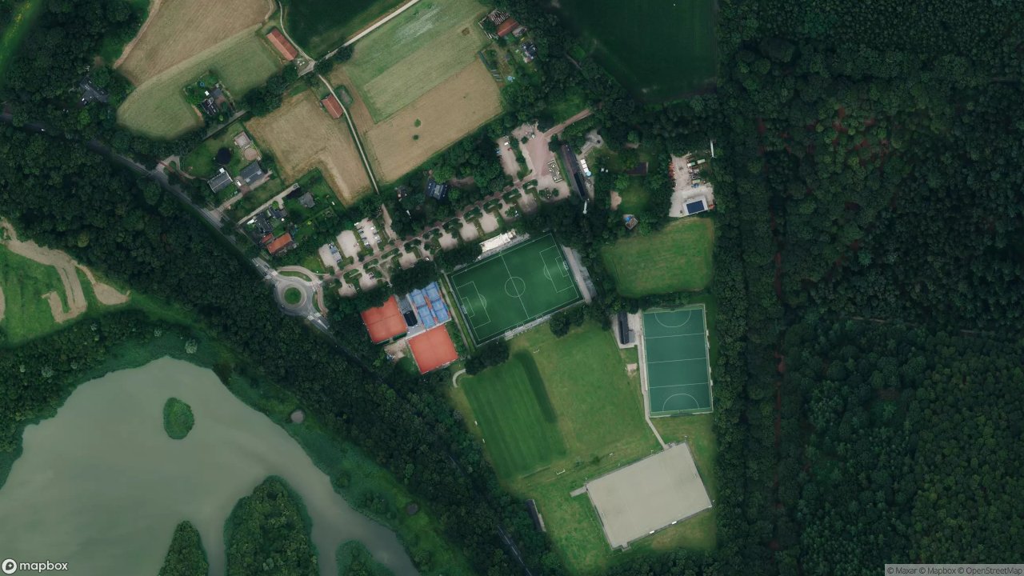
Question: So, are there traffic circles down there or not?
Yes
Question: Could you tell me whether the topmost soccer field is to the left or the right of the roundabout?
right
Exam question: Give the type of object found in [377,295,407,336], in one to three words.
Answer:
tennis court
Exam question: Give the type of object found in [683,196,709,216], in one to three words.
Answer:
building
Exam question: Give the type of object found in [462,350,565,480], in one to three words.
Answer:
sports field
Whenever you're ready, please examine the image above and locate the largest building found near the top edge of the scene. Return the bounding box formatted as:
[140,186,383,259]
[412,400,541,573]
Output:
[267,28,298,61]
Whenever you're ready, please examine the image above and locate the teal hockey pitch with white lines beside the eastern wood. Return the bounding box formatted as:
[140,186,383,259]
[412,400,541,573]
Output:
[641,305,713,417]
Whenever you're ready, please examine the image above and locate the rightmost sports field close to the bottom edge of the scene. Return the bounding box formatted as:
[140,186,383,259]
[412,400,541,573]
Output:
[584,441,712,548]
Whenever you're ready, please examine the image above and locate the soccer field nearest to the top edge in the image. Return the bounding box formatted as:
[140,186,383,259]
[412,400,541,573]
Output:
[443,228,586,348]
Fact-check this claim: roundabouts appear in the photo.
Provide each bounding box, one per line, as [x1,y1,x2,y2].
[253,253,336,338]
